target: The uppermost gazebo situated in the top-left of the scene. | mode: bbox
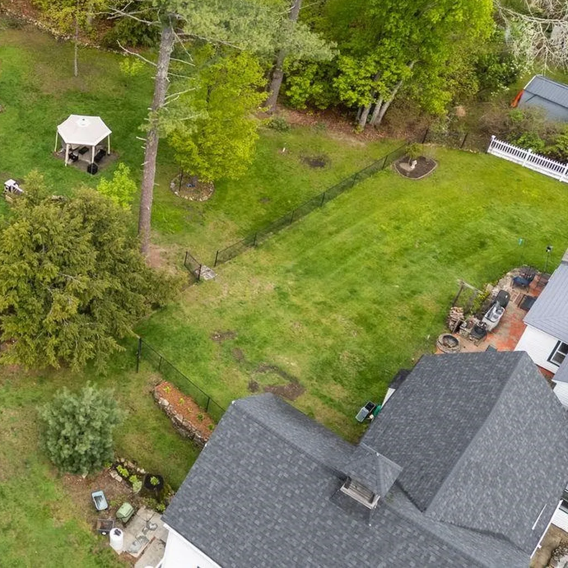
[55,114,112,166]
